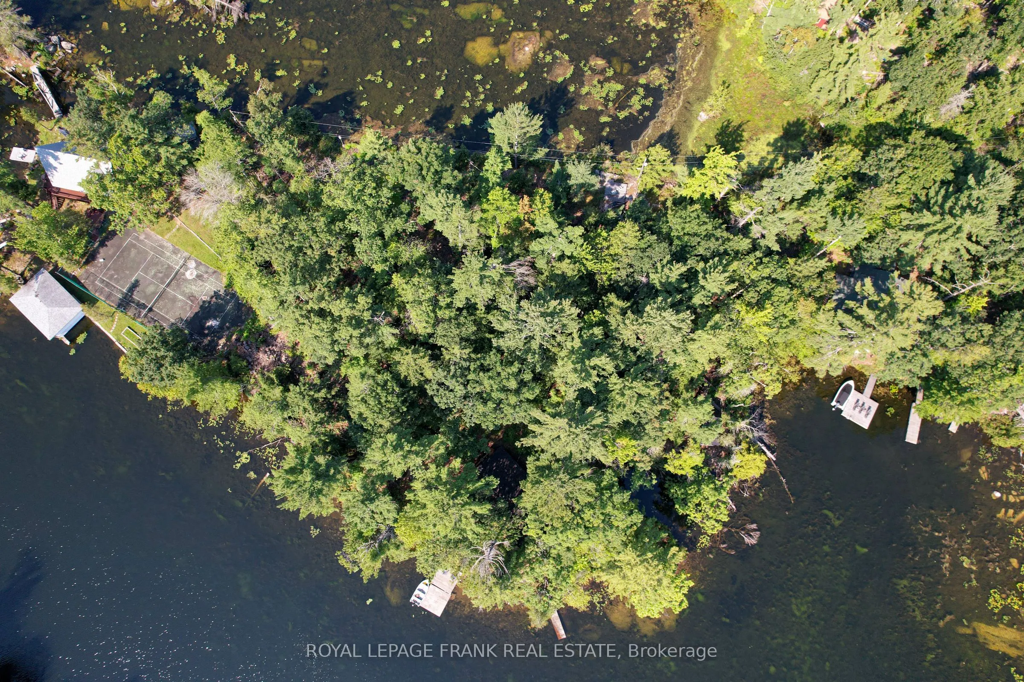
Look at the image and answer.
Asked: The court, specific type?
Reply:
tennis court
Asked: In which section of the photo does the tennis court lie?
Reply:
left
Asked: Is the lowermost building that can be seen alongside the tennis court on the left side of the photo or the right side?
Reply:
left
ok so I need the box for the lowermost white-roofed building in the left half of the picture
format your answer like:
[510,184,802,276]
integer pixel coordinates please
[9,267,87,342]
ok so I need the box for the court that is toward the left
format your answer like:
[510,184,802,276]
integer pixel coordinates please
[78,224,246,354]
